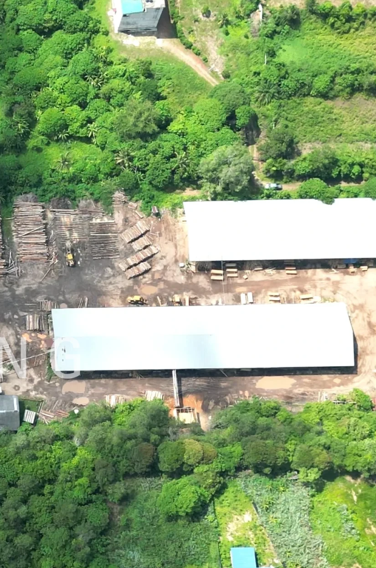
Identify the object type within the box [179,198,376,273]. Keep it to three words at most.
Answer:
building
